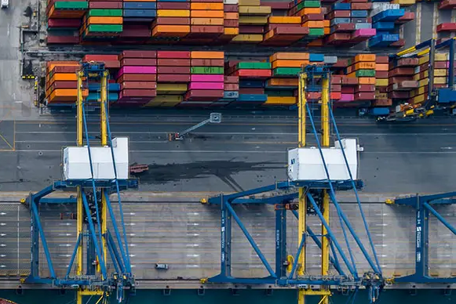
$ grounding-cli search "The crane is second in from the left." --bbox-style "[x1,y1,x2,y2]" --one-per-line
[201,54,388,304]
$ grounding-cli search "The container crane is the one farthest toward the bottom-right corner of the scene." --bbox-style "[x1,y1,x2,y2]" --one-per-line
[388,189,456,283]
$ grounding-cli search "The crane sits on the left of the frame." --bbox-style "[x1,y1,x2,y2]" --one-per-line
[18,52,136,304]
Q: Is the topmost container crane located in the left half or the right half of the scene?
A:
right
